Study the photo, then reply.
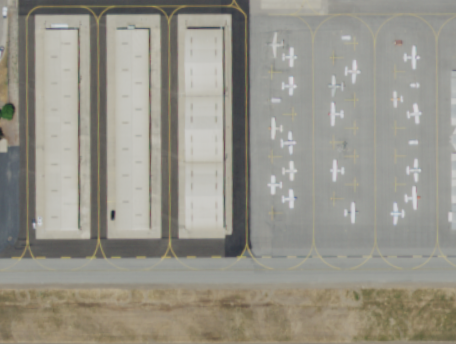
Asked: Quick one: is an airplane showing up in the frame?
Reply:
Yes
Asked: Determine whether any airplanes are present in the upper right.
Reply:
Yes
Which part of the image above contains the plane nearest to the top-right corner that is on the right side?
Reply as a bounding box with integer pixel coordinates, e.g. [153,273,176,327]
[404,44,420,69]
